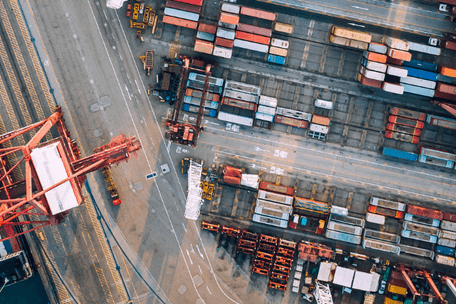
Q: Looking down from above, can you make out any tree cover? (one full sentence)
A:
No, there is no tree cover in the image.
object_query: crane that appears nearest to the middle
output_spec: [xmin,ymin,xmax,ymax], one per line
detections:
[152,56,211,146]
